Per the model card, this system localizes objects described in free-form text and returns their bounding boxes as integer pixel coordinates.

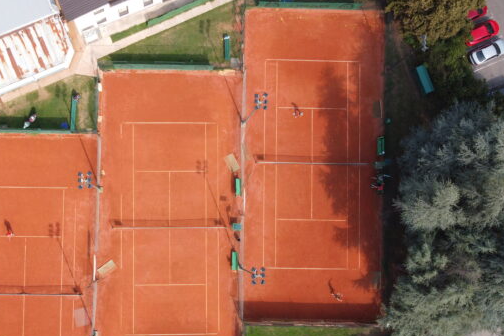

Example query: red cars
[470,19,503,44]
[459,0,494,24]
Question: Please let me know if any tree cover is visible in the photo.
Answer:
Yes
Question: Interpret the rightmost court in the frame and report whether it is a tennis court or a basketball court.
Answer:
tennis court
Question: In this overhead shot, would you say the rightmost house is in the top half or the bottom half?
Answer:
top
